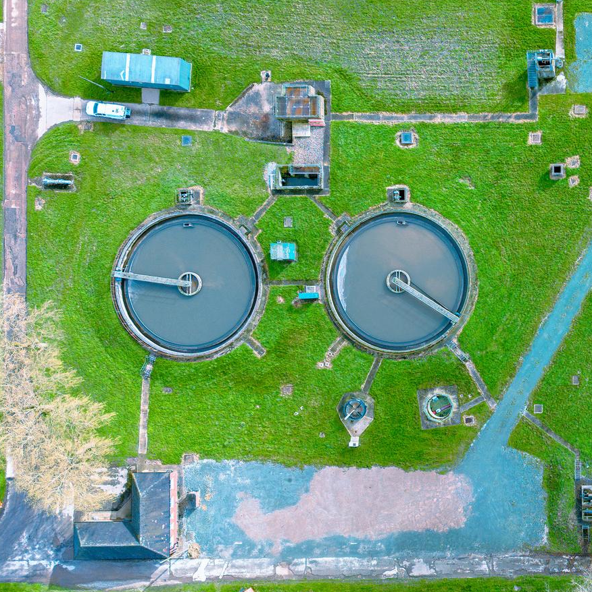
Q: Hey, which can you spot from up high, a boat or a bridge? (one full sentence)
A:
Visible in the photo is a bridge.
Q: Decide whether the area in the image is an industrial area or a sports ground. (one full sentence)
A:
This image shows an industrial area.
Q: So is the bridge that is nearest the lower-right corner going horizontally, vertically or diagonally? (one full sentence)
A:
The bridge that is nearest the lower-right corner is laid out diagonally.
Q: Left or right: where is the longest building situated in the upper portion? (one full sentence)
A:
You can find the longest building situated in the upper portion on the left side of the picture.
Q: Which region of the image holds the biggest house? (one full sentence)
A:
The biggest house is in the bottom left part of the image.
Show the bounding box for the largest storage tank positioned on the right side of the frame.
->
[325,208,470,353]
